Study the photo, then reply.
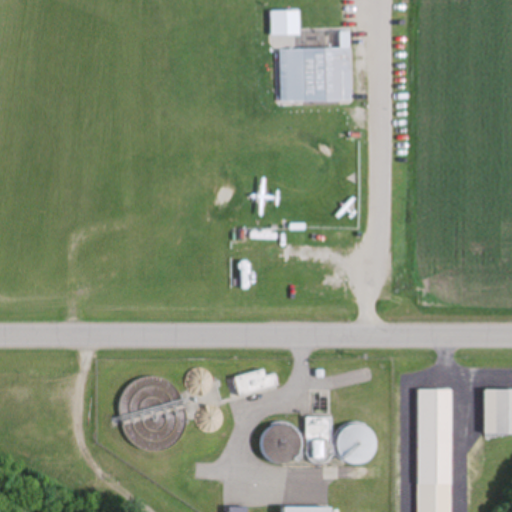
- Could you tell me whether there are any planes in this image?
Yes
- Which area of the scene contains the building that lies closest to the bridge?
bottom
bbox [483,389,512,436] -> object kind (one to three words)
shed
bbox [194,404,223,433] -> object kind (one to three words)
storage tank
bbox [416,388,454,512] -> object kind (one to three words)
shed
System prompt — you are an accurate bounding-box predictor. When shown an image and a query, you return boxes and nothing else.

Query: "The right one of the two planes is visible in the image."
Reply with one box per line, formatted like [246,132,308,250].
[335,196,358,218]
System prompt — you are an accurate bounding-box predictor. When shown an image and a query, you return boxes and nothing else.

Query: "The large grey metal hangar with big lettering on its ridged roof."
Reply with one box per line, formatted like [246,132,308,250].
[280,46,352,102]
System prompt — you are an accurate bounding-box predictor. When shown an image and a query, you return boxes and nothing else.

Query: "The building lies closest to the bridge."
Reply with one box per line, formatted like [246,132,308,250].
[234,369,280,396]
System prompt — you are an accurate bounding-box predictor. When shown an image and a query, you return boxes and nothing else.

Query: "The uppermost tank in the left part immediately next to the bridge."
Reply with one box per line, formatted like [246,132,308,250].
[184,367,213,396]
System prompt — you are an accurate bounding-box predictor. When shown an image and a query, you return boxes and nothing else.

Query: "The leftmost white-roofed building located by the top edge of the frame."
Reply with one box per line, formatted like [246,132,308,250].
[270,8,301,35]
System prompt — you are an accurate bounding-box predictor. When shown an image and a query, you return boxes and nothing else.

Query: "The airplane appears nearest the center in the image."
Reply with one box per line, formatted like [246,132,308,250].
[250,176,280,216]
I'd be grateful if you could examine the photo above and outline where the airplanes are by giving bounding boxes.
[250,176,280,216]
[335,196,358,218]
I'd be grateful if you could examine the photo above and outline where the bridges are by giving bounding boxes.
[110,400,189,430]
